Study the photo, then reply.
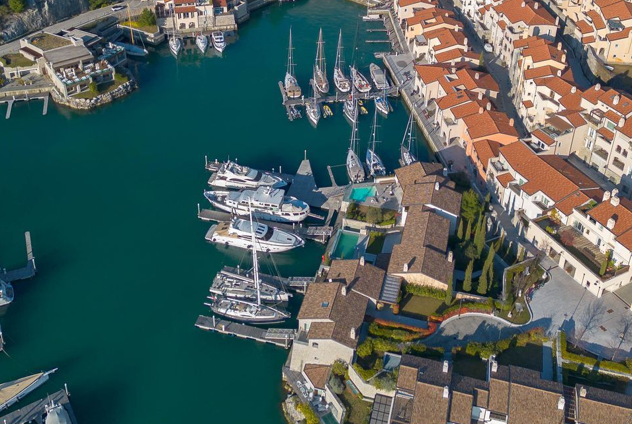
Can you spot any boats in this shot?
Yes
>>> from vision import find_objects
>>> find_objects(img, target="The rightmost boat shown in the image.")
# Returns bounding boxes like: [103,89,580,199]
[399,109,415,168]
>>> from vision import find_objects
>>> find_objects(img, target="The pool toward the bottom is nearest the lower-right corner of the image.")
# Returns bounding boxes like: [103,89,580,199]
[382,351,402,370]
